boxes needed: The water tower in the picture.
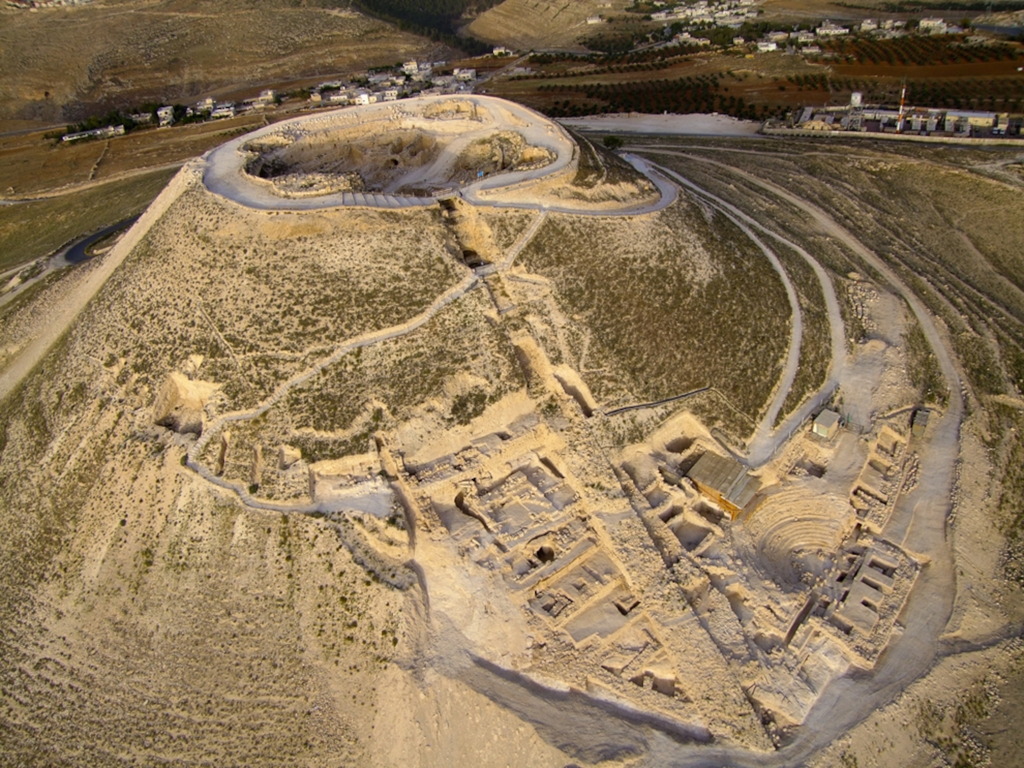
[847,91,869,128]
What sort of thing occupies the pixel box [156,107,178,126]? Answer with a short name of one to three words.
house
